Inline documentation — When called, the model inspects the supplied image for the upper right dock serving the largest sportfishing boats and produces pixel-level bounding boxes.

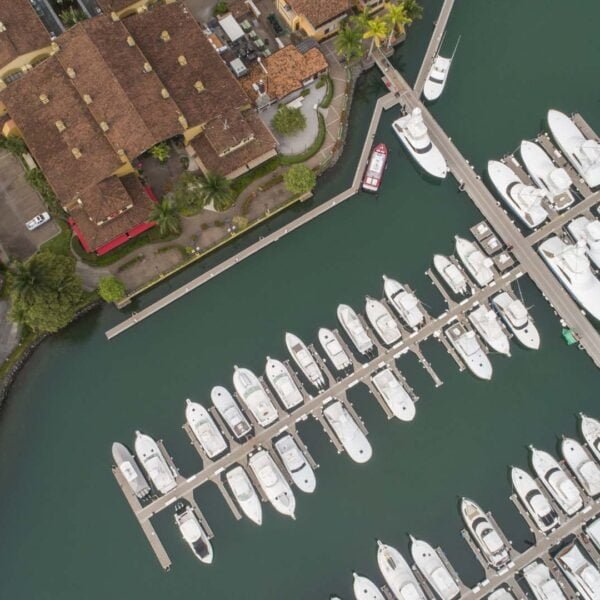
[507,112,600,254]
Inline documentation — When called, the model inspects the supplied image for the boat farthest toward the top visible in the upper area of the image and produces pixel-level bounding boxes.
[425,28,472,101]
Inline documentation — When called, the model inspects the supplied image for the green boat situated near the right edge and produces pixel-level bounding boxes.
[560,328,577,345]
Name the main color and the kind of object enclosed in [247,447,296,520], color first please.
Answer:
white boat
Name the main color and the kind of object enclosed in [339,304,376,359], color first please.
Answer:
white boat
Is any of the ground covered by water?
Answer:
Yes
